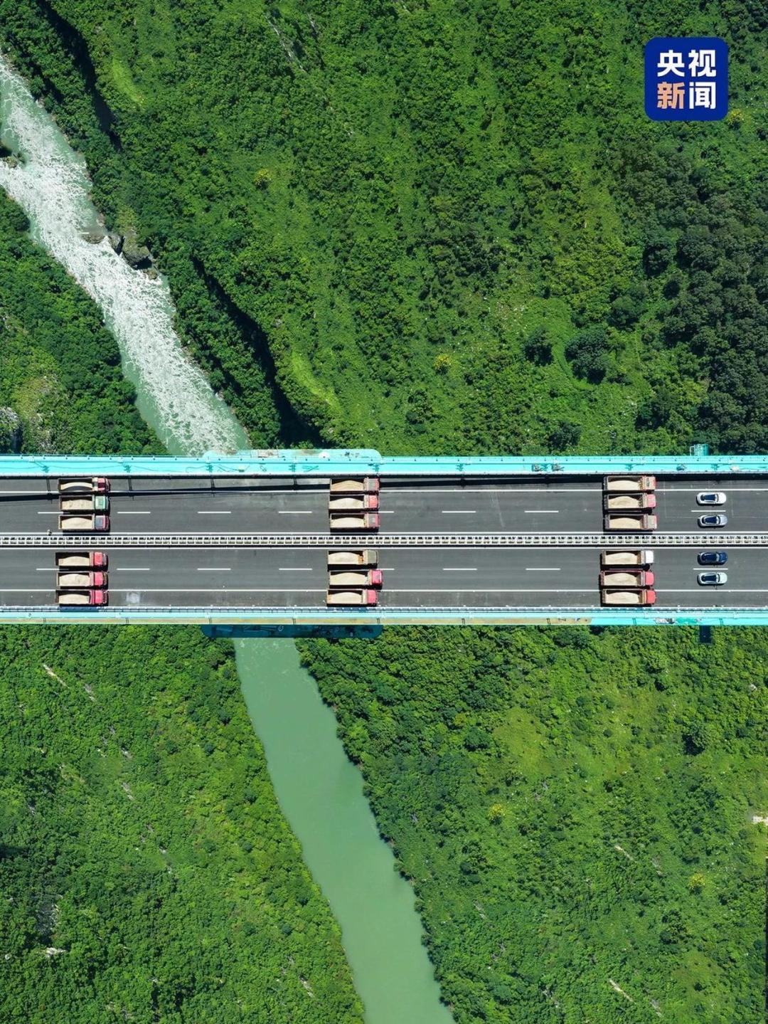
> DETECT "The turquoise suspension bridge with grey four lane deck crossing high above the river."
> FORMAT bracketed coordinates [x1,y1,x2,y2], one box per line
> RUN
[0,449,768,637]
